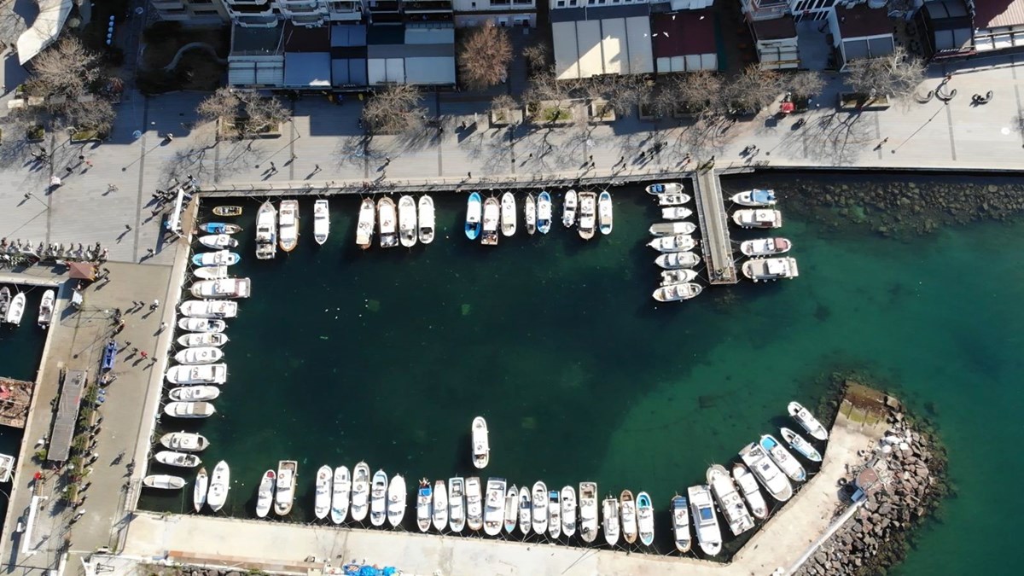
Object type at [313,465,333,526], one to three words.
boat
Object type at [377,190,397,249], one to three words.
boat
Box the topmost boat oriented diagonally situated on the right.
[788,402,833,445]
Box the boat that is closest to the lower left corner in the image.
[0,451,20,481]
